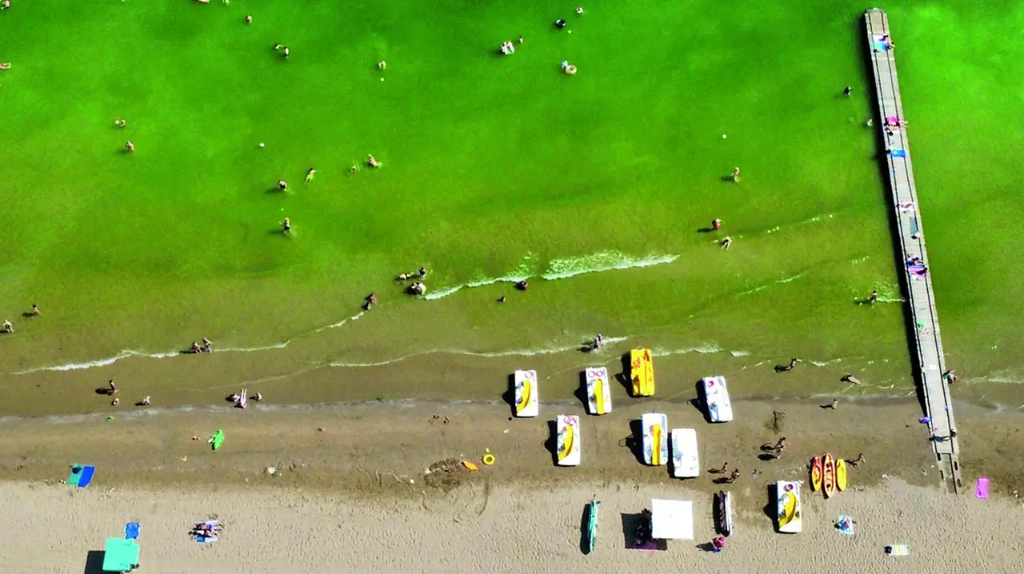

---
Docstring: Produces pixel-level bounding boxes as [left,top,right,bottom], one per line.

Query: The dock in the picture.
[864,9,965,501]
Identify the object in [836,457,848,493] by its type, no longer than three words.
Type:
boat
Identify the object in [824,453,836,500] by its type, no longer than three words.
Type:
boat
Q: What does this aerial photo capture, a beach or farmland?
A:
beach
